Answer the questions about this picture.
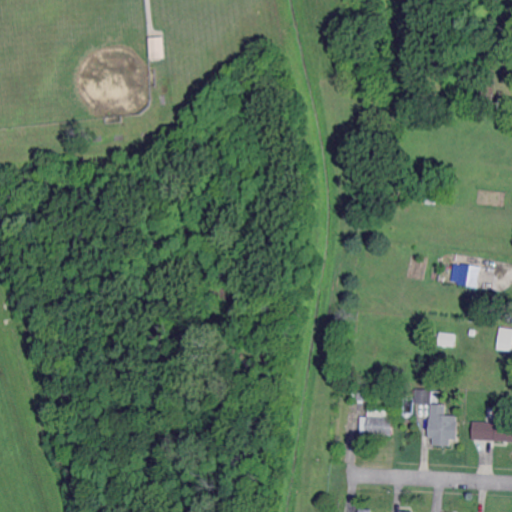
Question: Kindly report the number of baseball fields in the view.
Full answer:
Just 1 baseball field appears in this view.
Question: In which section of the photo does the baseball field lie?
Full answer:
The baseball field is in the top left part of the image.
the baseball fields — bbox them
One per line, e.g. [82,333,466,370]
[76,45,150,117]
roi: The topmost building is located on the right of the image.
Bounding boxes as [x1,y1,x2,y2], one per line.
[450,263,482,290]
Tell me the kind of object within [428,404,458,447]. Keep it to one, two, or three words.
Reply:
house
